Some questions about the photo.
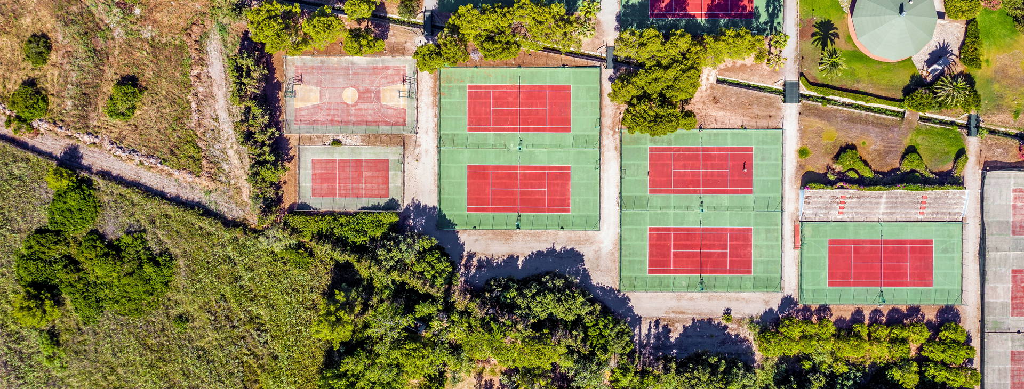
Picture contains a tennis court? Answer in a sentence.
Yes, there's a tennis court here.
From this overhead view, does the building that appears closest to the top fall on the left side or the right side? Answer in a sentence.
You can find the building that appears closest to the top on the right side of the picture.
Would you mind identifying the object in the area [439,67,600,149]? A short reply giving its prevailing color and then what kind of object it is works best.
green tennis court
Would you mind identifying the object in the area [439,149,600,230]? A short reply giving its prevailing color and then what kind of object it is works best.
green tennis court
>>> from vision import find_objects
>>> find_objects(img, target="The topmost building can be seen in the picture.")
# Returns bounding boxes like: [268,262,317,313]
[845,0,937,63]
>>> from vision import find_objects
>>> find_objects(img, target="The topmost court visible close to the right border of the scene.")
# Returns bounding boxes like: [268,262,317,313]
[982,170,1024,253]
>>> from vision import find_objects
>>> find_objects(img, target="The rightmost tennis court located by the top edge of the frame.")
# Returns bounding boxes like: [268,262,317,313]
[621,0,784,36]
